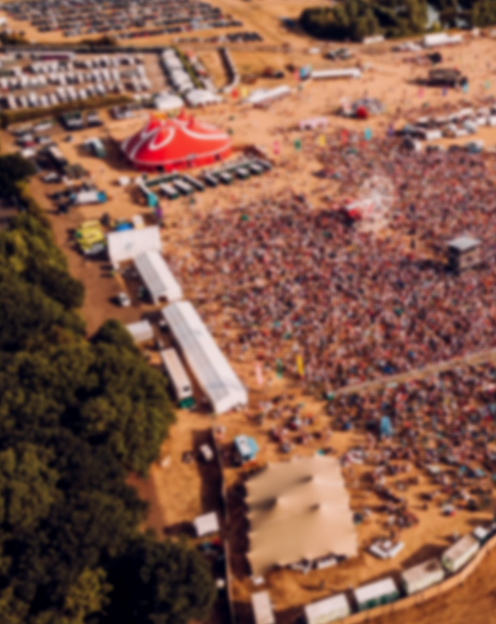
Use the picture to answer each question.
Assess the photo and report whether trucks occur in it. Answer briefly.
Yes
